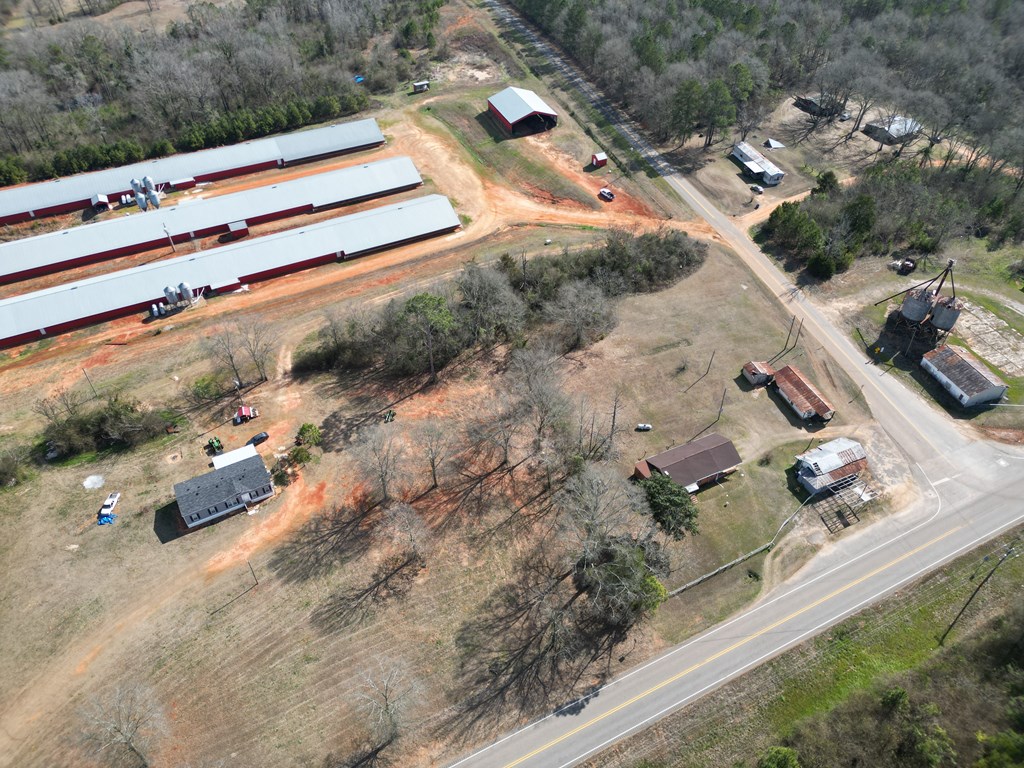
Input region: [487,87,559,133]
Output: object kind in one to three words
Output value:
barn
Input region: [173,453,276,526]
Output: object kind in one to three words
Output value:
house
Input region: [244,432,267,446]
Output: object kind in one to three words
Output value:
car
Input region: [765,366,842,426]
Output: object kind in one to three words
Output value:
shed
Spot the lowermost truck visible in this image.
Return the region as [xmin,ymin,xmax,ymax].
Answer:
[95,490,120,516]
